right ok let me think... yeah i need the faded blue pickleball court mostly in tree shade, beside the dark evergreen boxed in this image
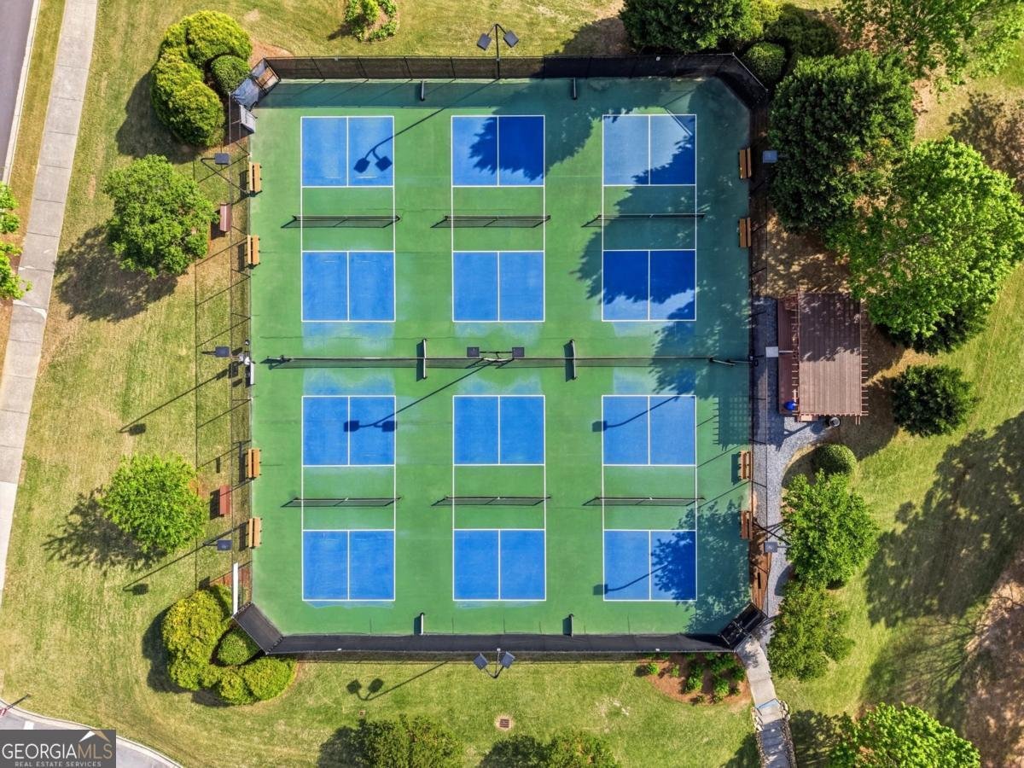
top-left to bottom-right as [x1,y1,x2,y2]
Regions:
[602,114,697,321]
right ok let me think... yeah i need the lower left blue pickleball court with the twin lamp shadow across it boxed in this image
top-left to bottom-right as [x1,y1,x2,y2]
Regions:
[302,396,396,601]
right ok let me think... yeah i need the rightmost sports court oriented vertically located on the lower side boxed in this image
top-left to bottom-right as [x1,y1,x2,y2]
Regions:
[603,395,697,601]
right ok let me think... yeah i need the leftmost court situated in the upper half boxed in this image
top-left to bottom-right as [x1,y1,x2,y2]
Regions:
[301,116,395,322]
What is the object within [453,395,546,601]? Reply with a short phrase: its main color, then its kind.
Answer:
blue sports court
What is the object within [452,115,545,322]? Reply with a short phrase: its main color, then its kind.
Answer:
blue sports court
